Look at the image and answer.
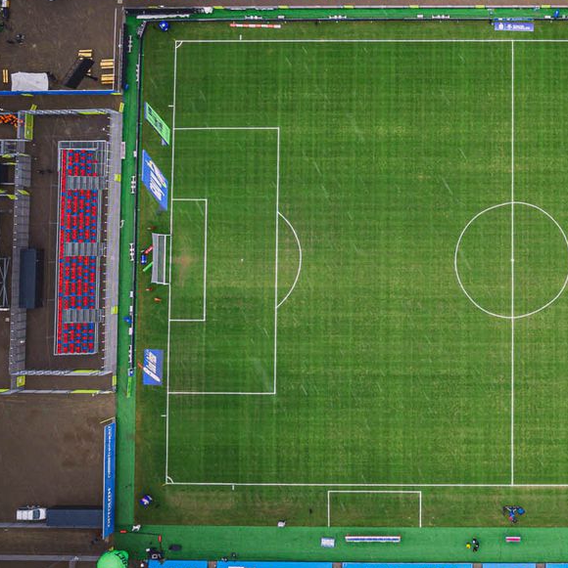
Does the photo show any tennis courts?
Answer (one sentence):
No, I can see no tennis court in this picture.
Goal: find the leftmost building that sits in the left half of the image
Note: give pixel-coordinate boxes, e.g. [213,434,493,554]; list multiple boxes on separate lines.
[0,165,15,188]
